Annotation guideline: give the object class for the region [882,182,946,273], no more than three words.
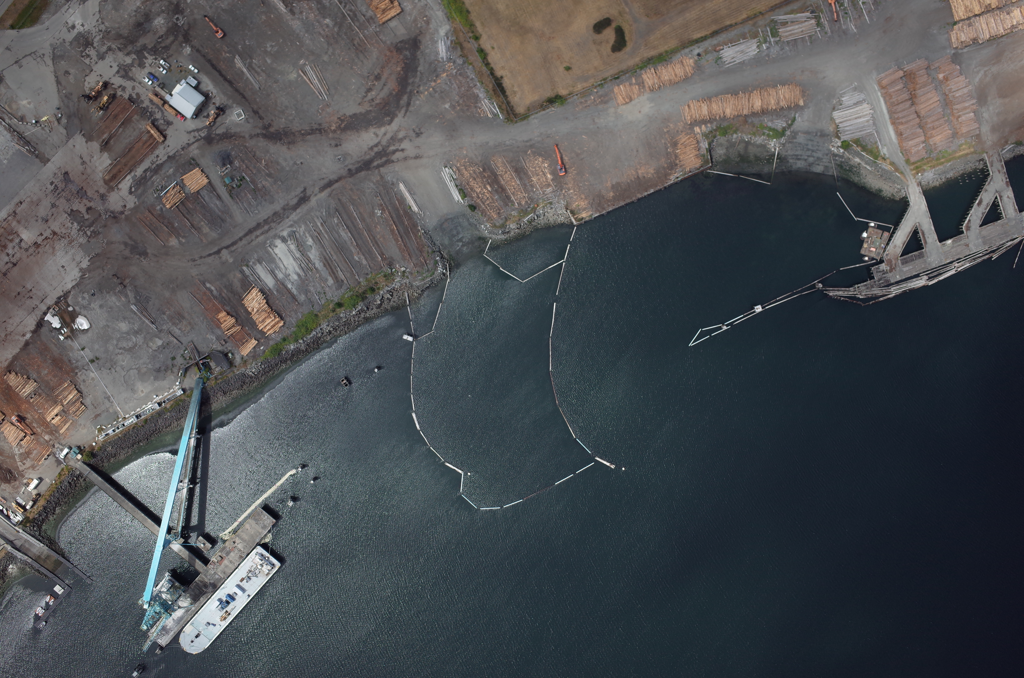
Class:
pier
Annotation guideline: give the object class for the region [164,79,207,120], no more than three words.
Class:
building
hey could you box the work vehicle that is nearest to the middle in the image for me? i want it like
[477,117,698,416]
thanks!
[554,146,566,177]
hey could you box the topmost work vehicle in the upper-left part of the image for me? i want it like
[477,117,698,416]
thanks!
[204,15,226,39]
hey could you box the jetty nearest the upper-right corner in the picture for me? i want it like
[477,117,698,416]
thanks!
[962,149,1020,235]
